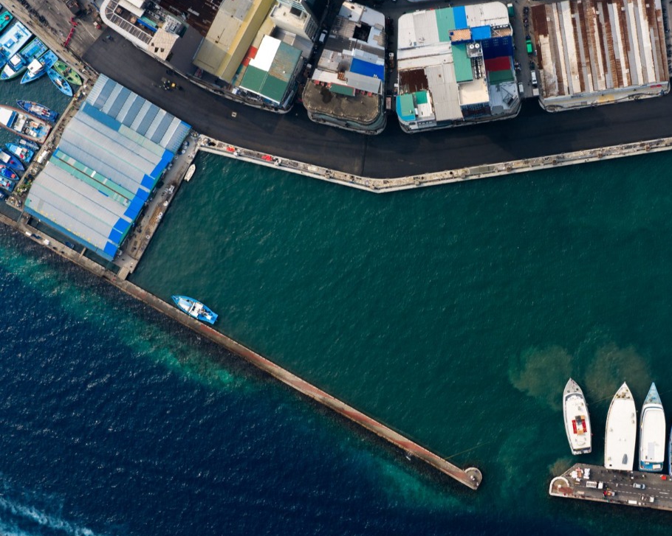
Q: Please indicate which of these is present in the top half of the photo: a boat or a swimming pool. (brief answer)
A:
boat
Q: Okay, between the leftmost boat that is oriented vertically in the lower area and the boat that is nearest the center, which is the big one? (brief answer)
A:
the leftmost boat that is oriented vertically in the lower area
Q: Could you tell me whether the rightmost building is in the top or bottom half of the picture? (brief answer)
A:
top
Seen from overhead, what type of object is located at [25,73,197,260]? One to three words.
building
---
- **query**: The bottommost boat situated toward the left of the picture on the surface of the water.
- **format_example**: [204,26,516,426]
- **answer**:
[174,296,223,324]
